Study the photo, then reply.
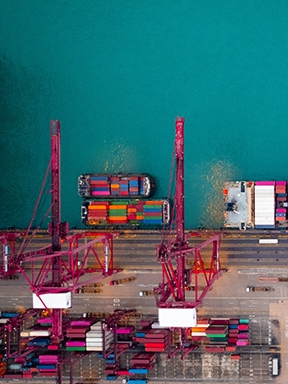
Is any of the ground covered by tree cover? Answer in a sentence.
No, the scene doesn't show any tree cover.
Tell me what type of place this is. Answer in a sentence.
The area seen from above is a port.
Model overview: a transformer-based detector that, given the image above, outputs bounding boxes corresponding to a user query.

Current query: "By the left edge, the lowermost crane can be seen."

[5,311,45,359]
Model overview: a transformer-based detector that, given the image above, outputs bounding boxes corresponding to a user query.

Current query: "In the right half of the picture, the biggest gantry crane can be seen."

[153,115,229,343]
